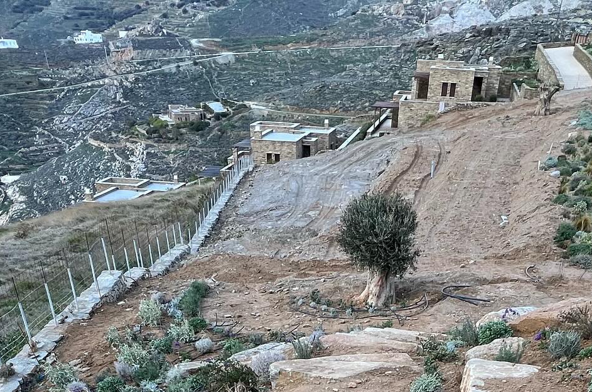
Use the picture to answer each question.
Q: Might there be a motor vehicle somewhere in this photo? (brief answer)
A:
No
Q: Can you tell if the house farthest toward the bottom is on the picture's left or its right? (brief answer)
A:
left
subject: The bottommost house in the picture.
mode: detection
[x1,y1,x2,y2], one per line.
[84,170,193,203]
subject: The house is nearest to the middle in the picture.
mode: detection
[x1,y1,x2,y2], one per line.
[219,117,336,181]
